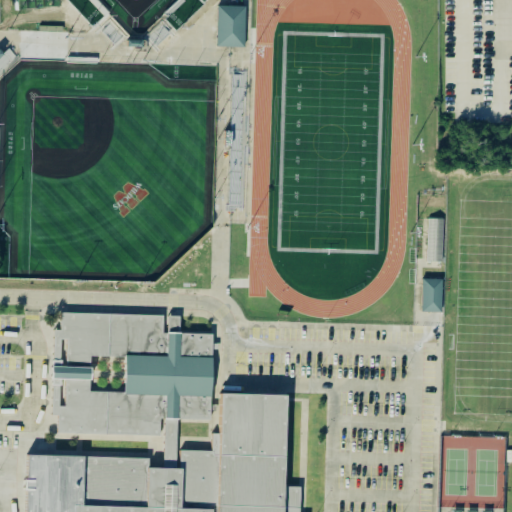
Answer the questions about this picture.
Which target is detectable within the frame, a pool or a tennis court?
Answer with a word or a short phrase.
tennis court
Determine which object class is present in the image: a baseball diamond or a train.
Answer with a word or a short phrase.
baseball diamond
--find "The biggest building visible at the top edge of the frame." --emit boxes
[217,6,246,47]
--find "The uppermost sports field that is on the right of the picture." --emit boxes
[268,22,394,300]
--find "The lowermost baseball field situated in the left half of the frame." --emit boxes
[0,60,217,280]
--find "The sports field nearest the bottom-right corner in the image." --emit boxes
[443,178,512,432]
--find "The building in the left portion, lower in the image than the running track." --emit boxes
[22,313,302,512]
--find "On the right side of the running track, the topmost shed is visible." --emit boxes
[426,218,444,262]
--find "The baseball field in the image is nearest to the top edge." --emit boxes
[106,0,178,34]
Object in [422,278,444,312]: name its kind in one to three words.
building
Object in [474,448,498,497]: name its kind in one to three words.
tennis court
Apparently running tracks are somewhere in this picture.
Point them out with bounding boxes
[250,0,413,318]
